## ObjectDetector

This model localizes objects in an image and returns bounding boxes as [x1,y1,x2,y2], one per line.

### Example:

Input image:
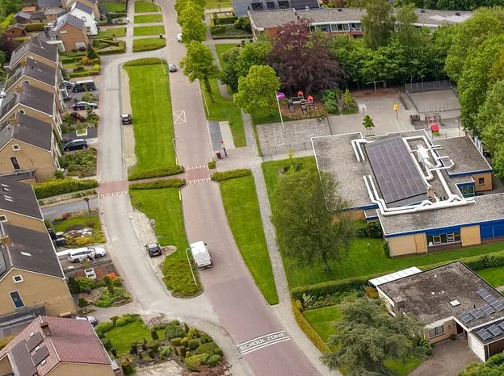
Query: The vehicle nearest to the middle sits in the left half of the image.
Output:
[190,237,210,262]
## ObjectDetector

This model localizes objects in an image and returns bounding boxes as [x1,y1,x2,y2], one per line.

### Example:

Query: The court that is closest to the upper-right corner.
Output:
[408,91,460,111]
